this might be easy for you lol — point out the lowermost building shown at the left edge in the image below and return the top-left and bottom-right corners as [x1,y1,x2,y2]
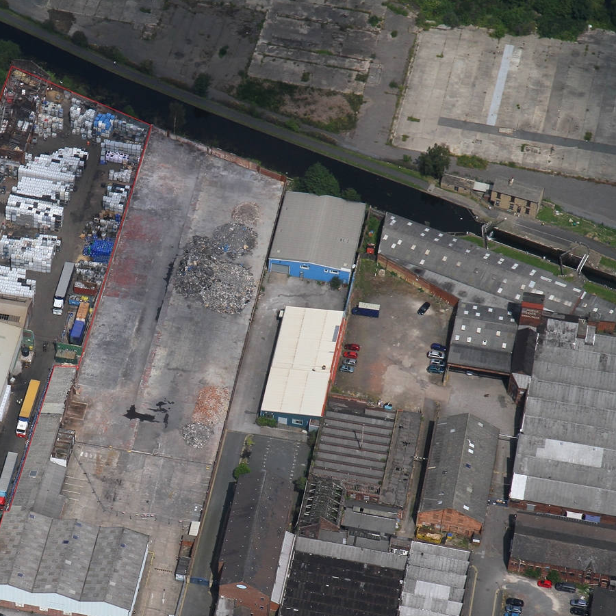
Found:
[0,508,150,616]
